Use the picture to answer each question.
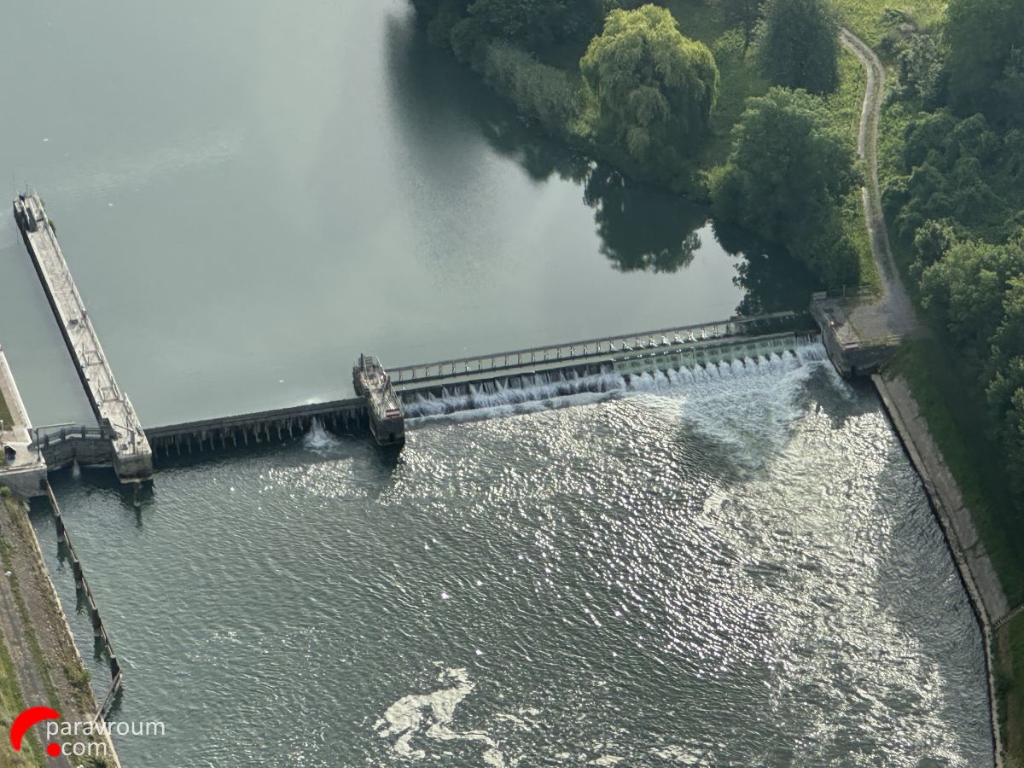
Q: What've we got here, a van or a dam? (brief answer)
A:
dam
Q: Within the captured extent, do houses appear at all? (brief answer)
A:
No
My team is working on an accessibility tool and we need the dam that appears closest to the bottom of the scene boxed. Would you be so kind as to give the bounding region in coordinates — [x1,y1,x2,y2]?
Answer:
[146,400,369,465]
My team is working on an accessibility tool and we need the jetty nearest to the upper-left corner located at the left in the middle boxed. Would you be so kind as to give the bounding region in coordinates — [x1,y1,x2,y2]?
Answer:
[11,175,156,484]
